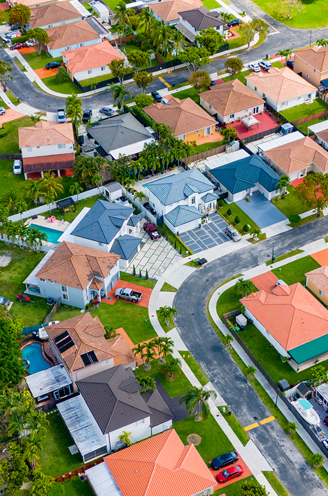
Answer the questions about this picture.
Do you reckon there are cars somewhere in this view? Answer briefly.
Yes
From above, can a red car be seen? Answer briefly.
Yes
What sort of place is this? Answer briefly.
residential area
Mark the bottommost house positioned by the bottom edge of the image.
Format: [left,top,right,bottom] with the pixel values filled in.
[84,426,219,496]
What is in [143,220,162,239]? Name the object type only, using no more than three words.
vehicle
